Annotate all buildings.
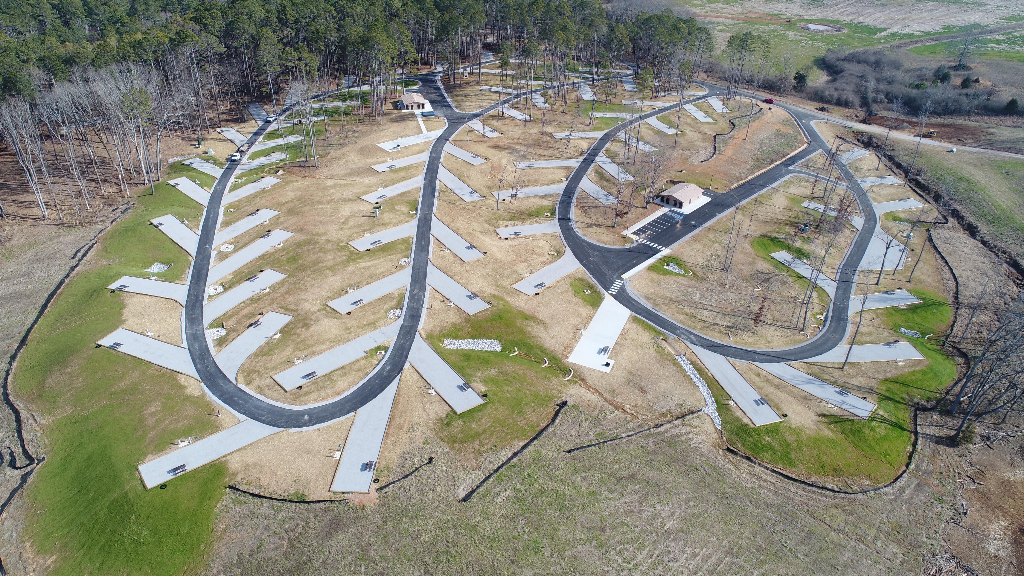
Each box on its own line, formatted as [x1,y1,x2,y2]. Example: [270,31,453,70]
[403,90,427,109]
[658,179,705,208]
